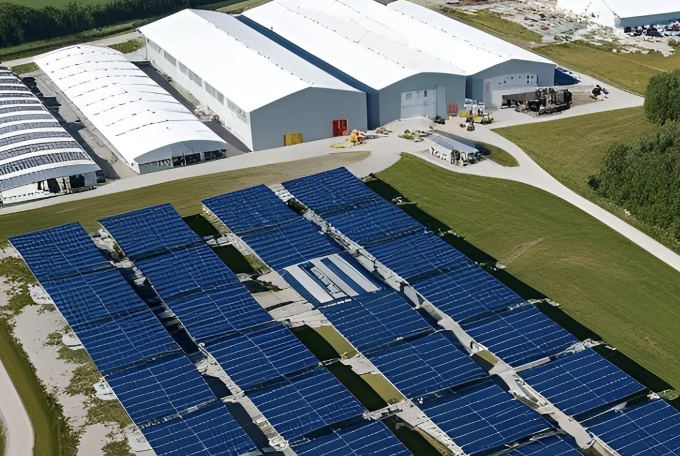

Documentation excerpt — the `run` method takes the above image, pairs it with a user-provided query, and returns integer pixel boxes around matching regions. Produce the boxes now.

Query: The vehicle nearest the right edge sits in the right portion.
[592,80,612,102]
